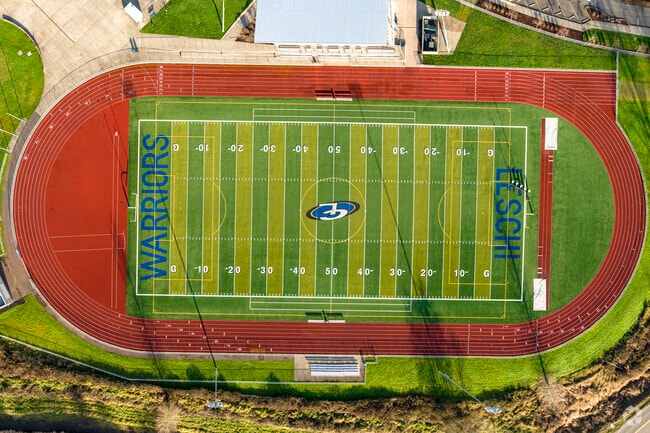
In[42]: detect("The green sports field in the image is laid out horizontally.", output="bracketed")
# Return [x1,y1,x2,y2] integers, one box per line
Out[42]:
[127,96,614,325]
